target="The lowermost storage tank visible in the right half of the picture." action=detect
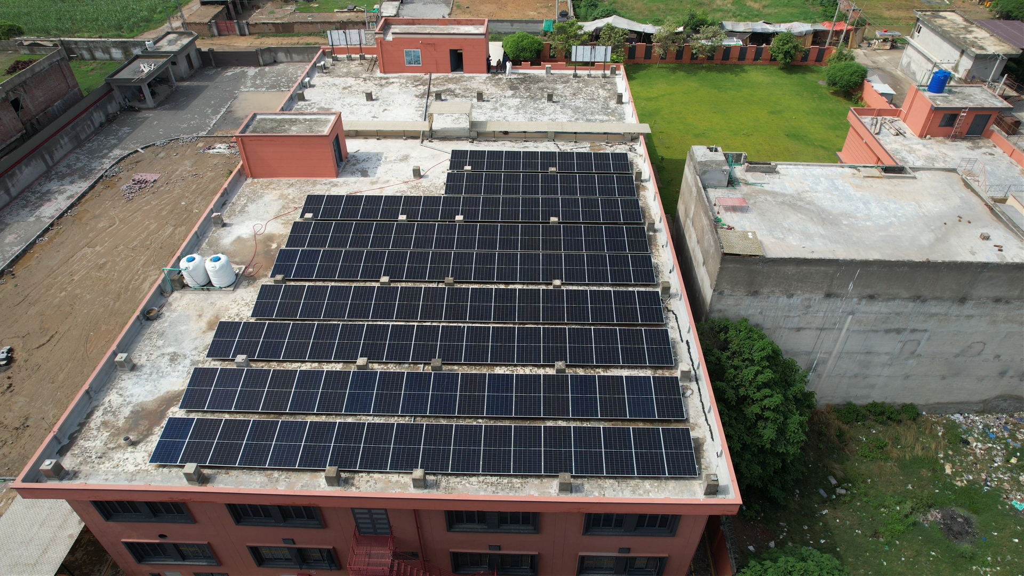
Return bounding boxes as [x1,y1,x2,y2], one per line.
[683,145,729,188]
